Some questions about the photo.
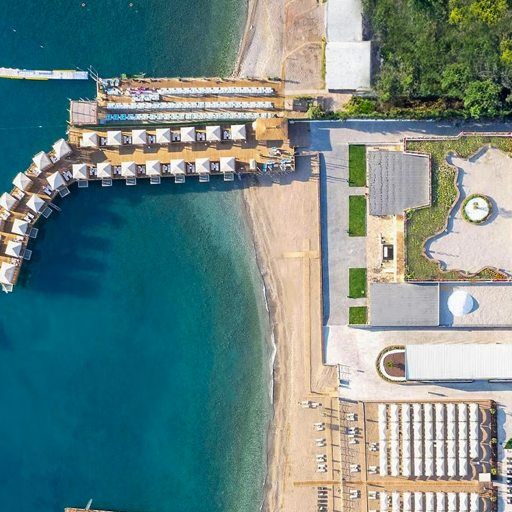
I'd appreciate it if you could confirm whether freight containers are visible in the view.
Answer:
No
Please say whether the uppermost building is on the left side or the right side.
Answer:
right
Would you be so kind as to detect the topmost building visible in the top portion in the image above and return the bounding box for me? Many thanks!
[326,0,362,42]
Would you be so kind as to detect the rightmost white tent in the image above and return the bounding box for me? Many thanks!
[448,291,475,316]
